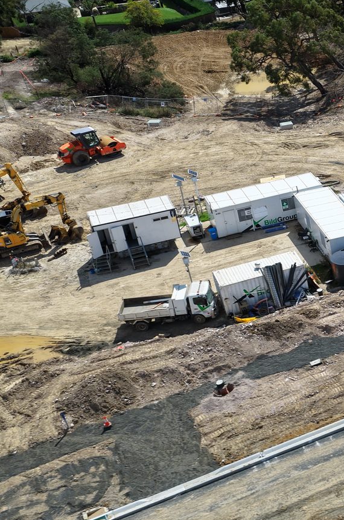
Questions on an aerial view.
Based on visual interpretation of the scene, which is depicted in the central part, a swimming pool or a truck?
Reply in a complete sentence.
The one visible in the central part is a truck.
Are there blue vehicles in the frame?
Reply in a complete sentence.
No, there isn't any blue vehicle down there.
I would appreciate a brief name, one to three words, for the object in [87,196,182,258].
shed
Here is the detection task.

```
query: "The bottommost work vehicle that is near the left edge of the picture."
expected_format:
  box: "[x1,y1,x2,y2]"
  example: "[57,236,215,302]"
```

[0,193,81,259]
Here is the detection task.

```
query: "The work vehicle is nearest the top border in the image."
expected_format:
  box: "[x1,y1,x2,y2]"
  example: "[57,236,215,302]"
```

[55,126,127,165]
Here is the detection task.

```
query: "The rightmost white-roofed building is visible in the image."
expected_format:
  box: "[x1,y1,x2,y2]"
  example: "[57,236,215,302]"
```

[293,186,344,259]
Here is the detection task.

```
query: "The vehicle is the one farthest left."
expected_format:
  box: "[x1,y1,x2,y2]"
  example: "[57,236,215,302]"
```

[0,163,33,201]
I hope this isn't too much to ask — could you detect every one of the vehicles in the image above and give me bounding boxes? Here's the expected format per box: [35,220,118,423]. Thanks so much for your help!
[55,126,127,165]
[117,279,221,330]
[0,193,81,259]
[0,163,33,201]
